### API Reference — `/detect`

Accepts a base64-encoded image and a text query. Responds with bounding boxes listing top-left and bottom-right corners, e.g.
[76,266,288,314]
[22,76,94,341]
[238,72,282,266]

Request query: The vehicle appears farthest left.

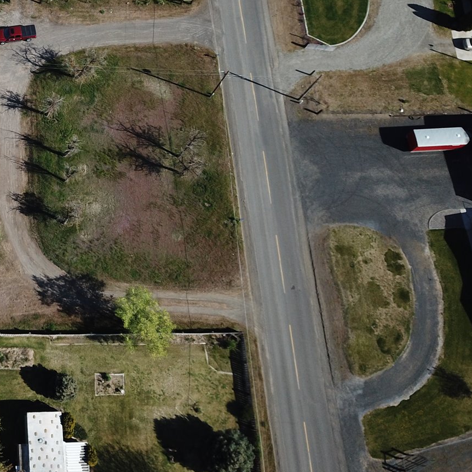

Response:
[0,25,37,45]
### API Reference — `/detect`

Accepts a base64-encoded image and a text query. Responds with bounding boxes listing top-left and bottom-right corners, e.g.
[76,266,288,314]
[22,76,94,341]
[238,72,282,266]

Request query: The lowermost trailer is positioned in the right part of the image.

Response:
[406,127,471,152]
